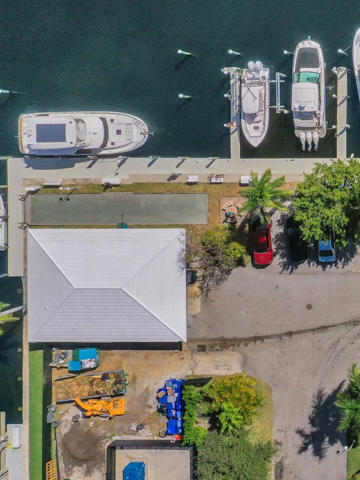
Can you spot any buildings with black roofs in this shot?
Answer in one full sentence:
No, I can't see a single building with a black roof in this photo.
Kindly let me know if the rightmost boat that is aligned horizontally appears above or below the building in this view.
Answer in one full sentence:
The rightmost boat that is aligned horizontally is located above the building in this view.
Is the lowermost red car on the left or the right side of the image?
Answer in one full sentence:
The lowermost red car is on the right side of the image.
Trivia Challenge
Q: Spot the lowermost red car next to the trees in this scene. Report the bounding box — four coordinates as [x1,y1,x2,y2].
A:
[249,220,274,267]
